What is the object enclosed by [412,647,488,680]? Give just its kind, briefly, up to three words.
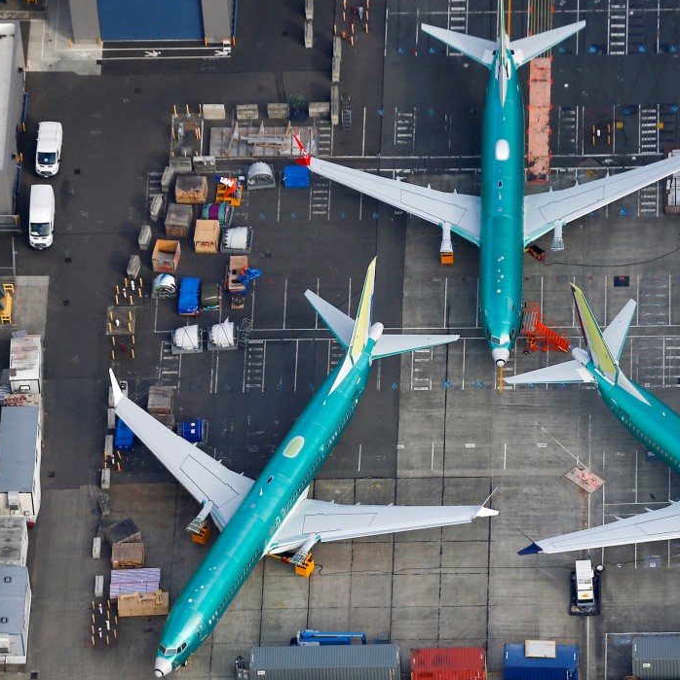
shipping container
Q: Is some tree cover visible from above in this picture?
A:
No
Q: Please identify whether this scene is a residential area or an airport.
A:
airport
